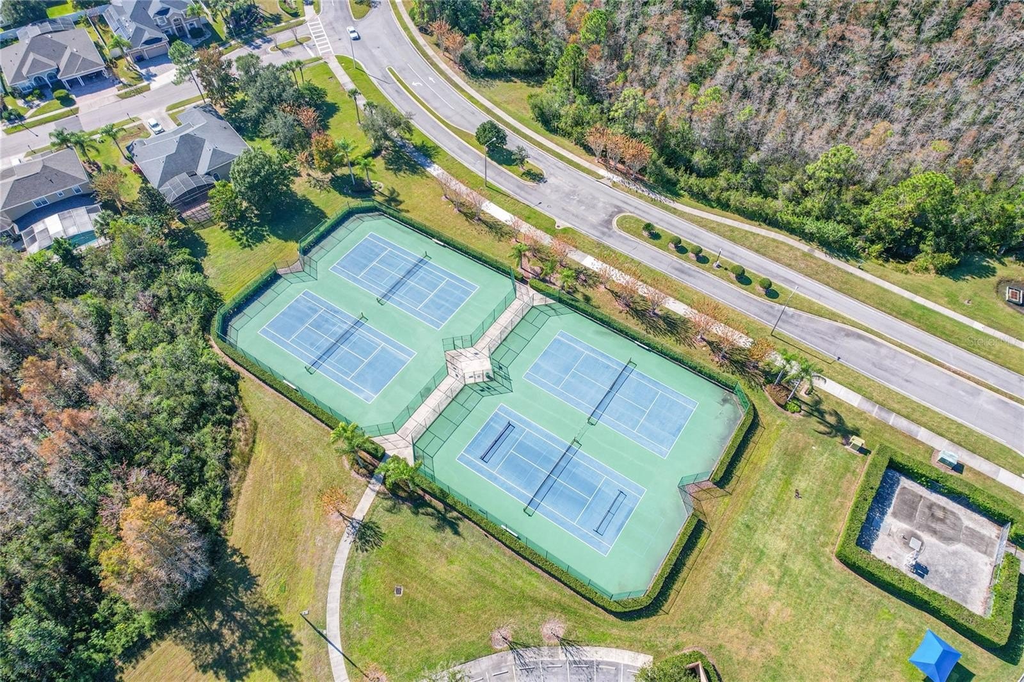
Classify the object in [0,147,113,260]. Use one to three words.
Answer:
house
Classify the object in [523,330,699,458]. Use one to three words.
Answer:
tennis court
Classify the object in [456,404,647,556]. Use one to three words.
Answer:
tennis court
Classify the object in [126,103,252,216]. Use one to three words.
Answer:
house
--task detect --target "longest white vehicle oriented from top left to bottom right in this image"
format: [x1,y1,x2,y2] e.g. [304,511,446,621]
[146,116,164,134]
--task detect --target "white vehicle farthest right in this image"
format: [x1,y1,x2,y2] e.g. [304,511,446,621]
[347,28,359,40]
